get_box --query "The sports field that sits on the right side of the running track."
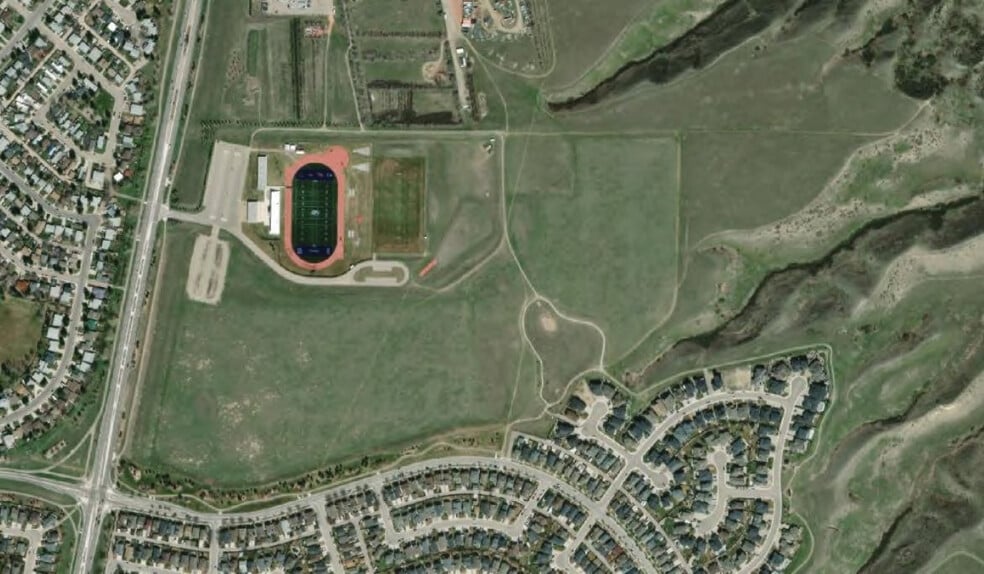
[374,157,427,255]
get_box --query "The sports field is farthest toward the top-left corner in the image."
[293,162,337,262]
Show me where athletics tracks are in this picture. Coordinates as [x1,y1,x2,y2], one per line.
[285,145,349,271]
